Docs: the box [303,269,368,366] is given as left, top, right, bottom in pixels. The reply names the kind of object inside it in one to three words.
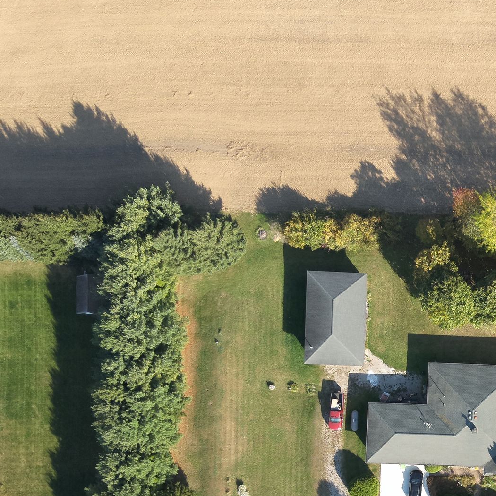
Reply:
building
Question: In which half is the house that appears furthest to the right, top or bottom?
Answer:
bottom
